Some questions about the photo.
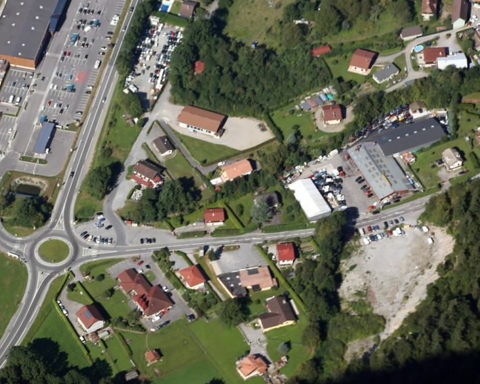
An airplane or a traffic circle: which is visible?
traffic circle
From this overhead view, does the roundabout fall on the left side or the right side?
left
